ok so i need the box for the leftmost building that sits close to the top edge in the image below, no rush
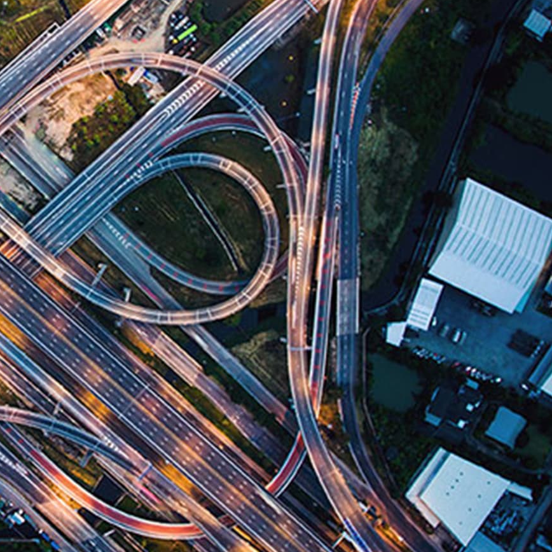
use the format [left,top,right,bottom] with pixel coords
[448,18,476,43]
